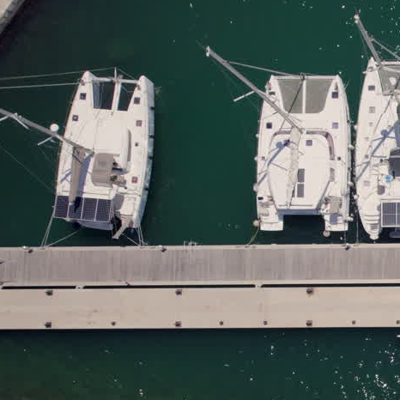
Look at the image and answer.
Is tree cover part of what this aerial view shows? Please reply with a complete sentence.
No, there is no tree cover in the image.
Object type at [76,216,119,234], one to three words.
boat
